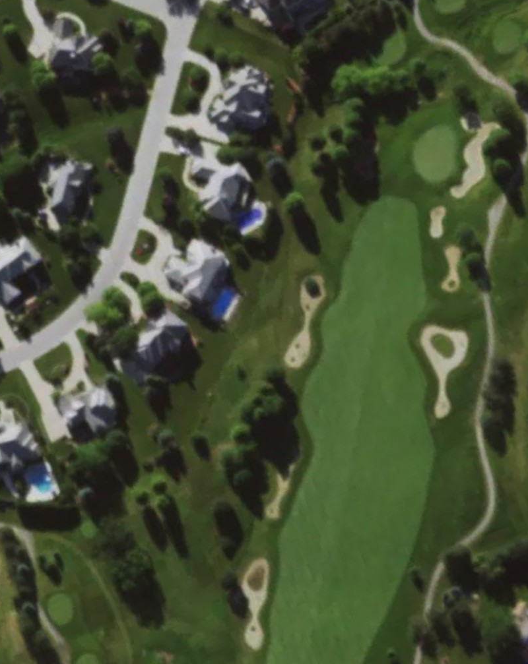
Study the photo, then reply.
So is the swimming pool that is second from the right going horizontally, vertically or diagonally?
diagonally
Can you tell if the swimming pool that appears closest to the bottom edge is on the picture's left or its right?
left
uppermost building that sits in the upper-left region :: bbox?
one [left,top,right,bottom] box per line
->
[46,29,108,88]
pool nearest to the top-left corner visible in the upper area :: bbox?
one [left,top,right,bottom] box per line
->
[237,208,263,227]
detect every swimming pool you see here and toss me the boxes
[237,208,263,227]
[26,463,52,493]
[210,288,237,319]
